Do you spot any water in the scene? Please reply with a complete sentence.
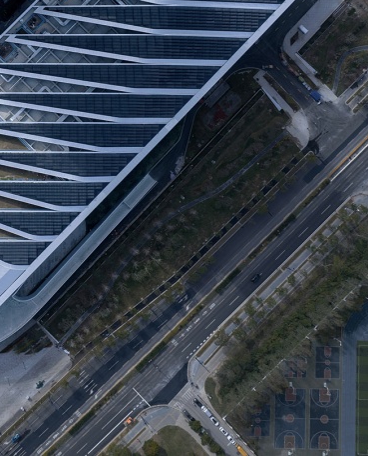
No, no water is visible.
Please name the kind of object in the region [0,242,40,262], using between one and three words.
solar array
